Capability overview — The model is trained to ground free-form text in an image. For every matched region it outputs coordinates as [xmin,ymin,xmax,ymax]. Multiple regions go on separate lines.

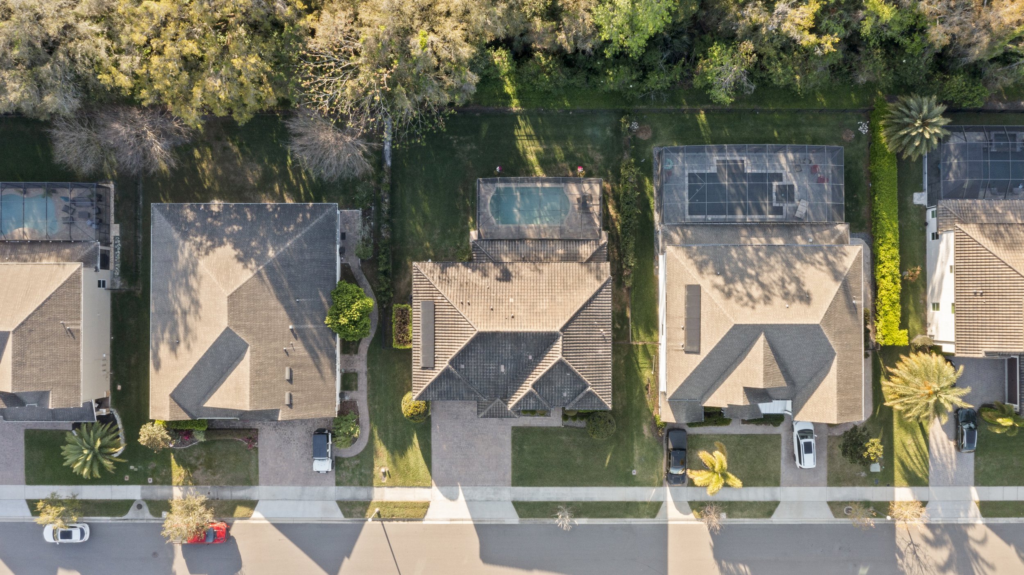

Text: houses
[924,199,1024,413]
[659,222,865,423]
[0,240,110,423]
[149,202,342,421]
[411,239,613,418]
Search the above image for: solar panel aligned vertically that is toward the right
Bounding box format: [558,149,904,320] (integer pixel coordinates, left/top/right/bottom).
[684,285,700,353]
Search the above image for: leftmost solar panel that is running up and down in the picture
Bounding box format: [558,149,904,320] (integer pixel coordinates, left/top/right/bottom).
[421,301,434,368]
